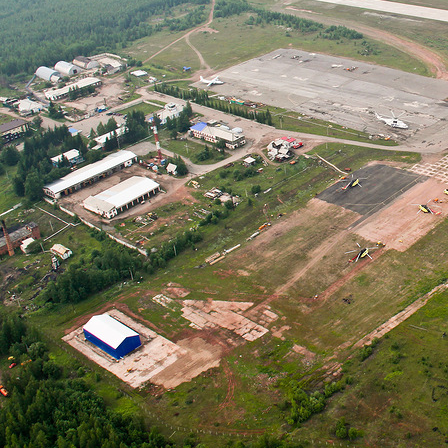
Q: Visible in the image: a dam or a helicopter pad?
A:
helicopter pad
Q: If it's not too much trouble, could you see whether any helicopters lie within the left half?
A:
No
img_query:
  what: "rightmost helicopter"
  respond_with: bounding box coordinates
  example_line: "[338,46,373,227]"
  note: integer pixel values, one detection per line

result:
[415,199,446,214]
